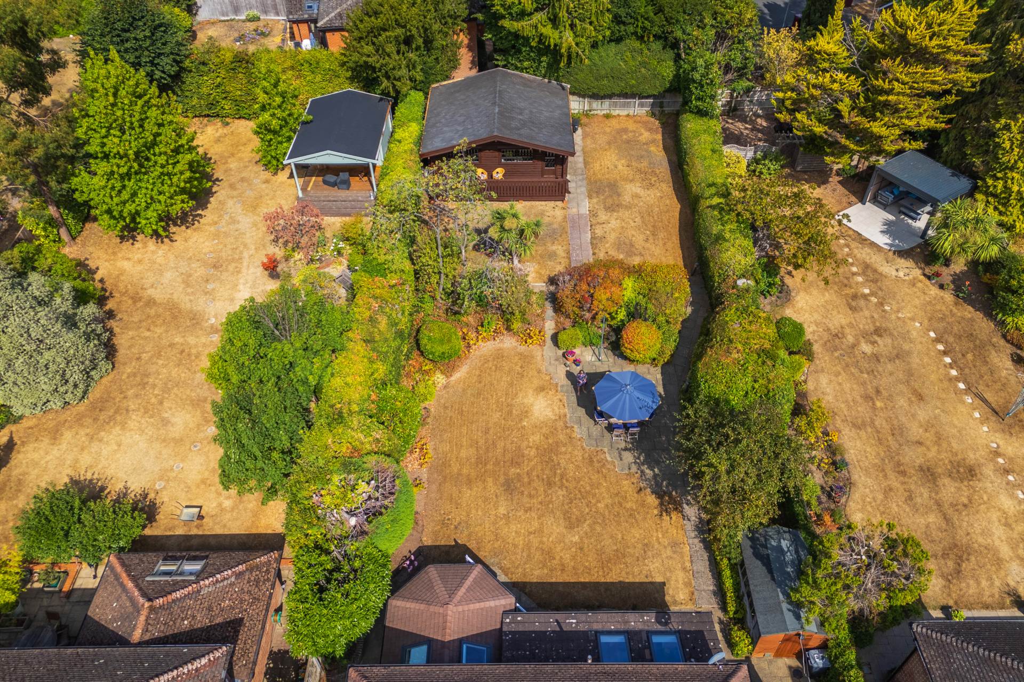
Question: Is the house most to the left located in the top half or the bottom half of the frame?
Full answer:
It is in the bottom half that the house most to the left appears.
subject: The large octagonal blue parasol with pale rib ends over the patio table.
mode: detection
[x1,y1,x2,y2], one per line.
[592,370,662,429]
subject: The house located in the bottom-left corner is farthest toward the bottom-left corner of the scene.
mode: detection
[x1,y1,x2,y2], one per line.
[0,548,285,682]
